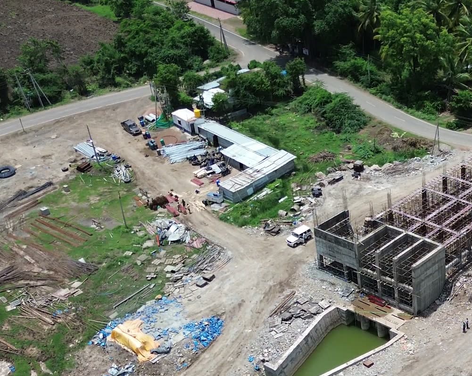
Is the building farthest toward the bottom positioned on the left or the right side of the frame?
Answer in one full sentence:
It is on the right.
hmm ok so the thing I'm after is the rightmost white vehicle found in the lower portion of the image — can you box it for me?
[285,223,313,246]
